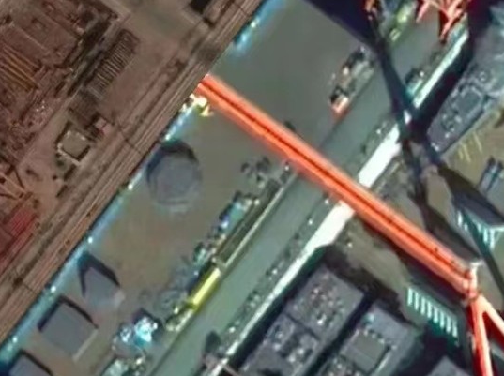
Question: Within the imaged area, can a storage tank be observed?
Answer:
Yes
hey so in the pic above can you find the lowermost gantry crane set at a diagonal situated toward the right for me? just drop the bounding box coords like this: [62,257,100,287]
[197,73,504,376]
